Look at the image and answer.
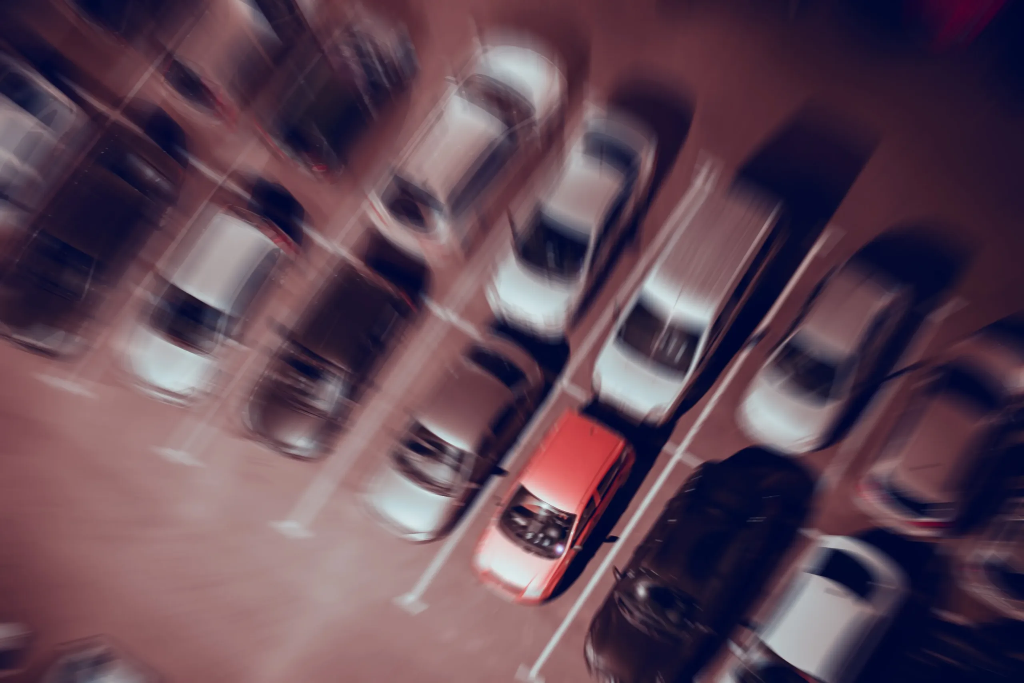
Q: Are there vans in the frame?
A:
Yes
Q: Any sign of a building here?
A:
No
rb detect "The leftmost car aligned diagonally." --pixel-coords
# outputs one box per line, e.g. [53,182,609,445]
[7,128,192,357]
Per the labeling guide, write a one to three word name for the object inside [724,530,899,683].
car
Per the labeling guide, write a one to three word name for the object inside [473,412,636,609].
car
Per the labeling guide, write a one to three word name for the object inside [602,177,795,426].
van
